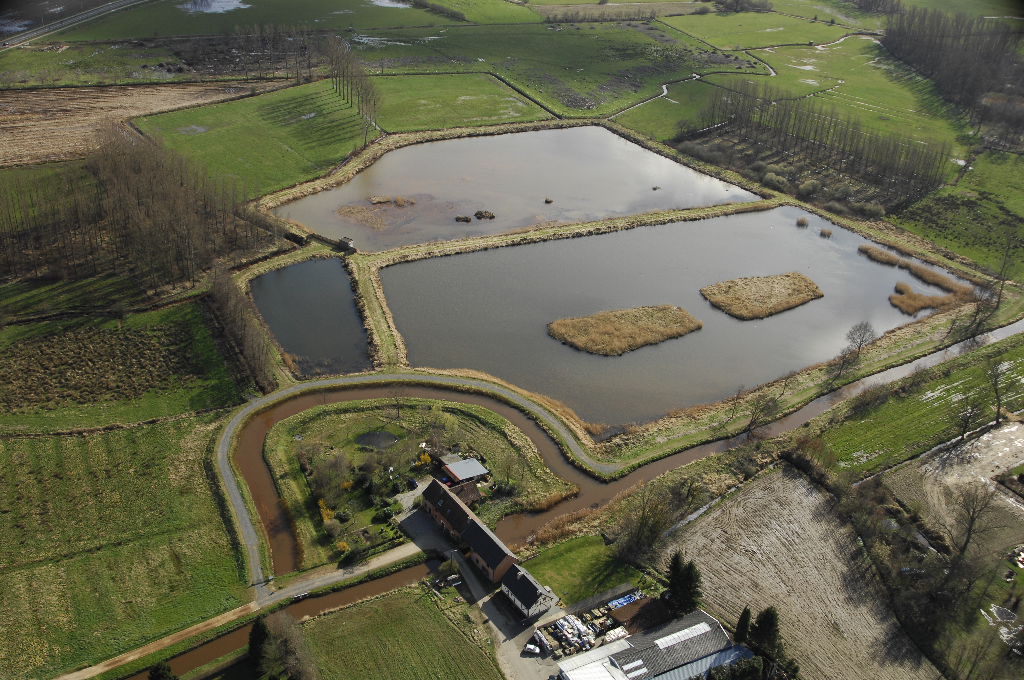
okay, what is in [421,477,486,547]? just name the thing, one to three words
house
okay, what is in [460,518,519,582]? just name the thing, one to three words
building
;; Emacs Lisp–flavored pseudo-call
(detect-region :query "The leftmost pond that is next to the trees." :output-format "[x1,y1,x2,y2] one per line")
[250,258,375,376]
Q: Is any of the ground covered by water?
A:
Yes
